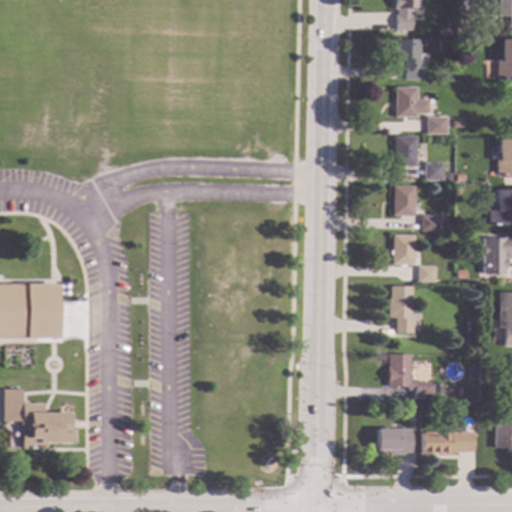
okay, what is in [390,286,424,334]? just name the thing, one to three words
house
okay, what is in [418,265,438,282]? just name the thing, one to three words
building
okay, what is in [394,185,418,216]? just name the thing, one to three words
house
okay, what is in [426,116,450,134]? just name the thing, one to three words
building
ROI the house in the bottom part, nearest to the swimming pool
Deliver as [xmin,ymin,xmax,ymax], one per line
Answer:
[389,354,437,395]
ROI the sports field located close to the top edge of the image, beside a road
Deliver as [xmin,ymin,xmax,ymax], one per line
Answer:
[0,0,293,182]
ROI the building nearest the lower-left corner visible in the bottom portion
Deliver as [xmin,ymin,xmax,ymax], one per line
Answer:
[2,388,78,450]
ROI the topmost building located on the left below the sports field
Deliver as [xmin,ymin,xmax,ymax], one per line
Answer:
[0,283,62,338]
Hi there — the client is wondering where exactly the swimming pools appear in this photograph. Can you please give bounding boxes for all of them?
[446,364,464,380]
